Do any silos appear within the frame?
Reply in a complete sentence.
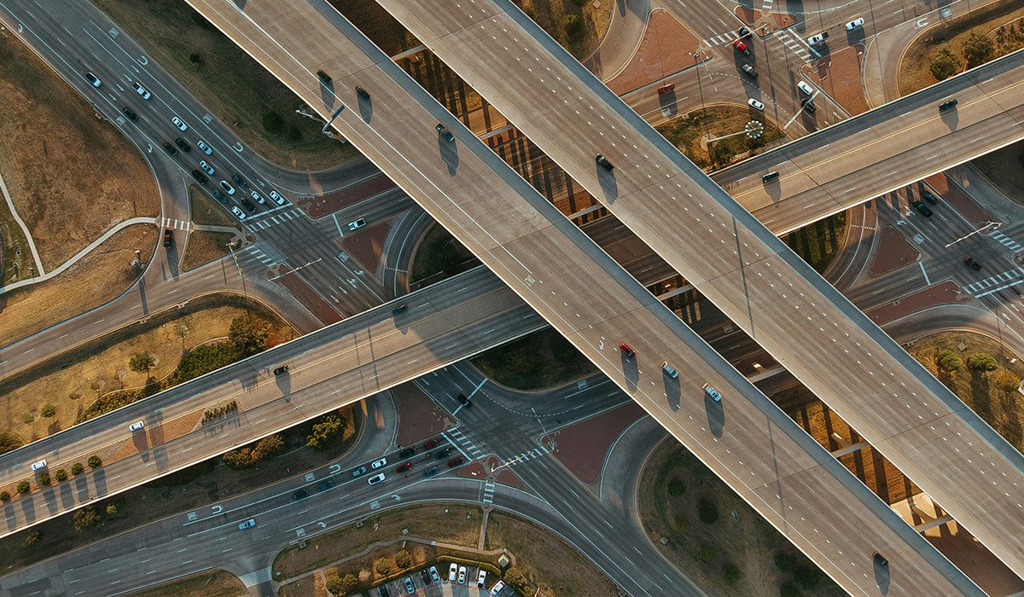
No, no silo is visible in the view.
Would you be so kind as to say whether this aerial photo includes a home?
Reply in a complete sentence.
No, no home is visible in the scene.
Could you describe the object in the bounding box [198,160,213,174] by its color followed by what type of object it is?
blue car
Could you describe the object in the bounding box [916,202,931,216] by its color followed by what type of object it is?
black car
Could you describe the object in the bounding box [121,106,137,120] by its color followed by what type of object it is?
black car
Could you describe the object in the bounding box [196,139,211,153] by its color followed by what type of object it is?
blue car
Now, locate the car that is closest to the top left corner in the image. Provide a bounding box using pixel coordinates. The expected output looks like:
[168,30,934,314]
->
[85,72,100,85]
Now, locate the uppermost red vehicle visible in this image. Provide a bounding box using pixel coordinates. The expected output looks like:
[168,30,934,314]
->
[734,39,752,55]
